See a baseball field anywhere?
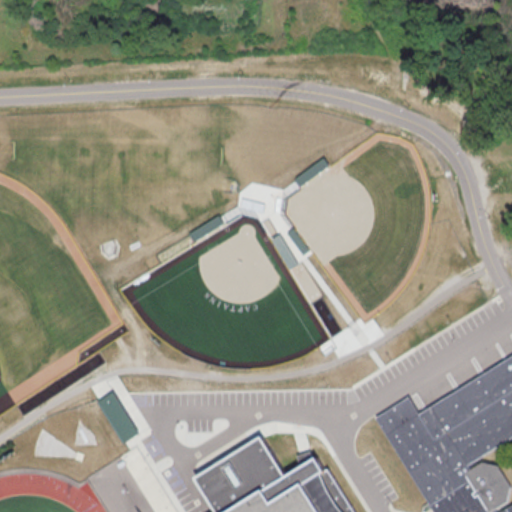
Yes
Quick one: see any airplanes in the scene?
No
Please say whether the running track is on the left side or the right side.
left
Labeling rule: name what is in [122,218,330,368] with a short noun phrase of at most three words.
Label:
baseball field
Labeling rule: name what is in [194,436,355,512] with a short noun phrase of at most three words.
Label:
building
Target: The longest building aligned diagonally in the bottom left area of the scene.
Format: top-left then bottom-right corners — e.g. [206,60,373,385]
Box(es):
[100,390,138,442]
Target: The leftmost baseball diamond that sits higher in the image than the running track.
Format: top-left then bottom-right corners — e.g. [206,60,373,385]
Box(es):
[0,174,122,414]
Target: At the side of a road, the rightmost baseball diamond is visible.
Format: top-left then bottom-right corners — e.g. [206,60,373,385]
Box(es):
[286,132,432,322]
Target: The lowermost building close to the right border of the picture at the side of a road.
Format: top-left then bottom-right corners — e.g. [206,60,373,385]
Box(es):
[376,355,512,512]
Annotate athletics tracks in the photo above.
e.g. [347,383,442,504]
[0,468,106,512]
